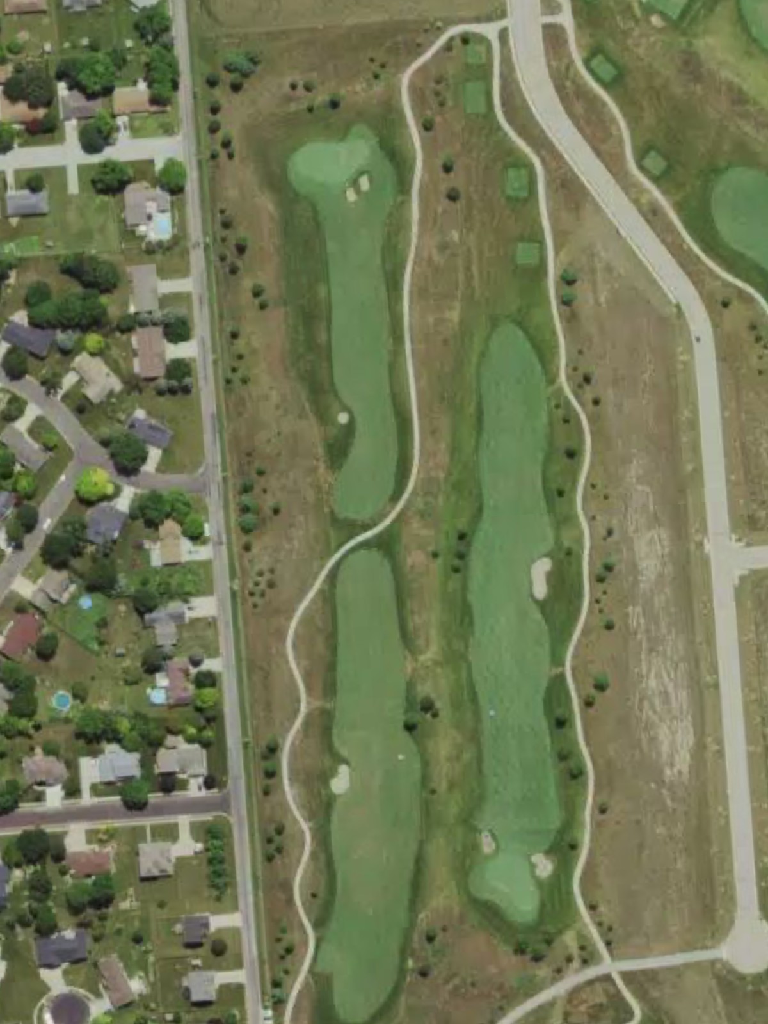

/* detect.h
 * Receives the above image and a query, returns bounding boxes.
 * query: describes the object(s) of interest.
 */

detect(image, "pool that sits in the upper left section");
[153,212,172,240]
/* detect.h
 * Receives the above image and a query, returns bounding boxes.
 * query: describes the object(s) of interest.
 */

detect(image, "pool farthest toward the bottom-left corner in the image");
[53,693,70,710]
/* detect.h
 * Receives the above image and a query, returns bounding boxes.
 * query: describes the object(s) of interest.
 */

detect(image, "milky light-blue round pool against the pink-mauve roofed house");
[147,687,168,705]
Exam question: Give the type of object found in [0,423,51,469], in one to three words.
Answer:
house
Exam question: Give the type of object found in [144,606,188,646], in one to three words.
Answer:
house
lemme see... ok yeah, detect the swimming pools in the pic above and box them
[53,693,70,710]
[153,212,172,240]
[147,687,168,705]
[79,596,92,608]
